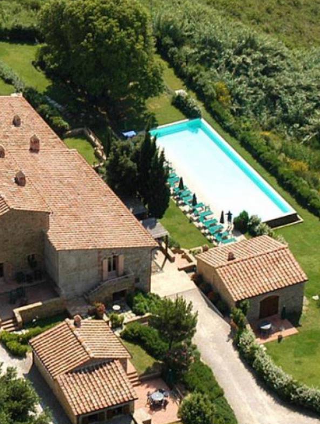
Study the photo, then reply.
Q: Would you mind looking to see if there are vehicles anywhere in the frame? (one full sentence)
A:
No, no vehicle is visible in the view.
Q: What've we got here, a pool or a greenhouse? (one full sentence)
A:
Visible in the photo is a pool.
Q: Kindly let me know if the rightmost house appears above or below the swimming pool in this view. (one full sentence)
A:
Relative to the swimming pool, the rightmost house lies below it.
